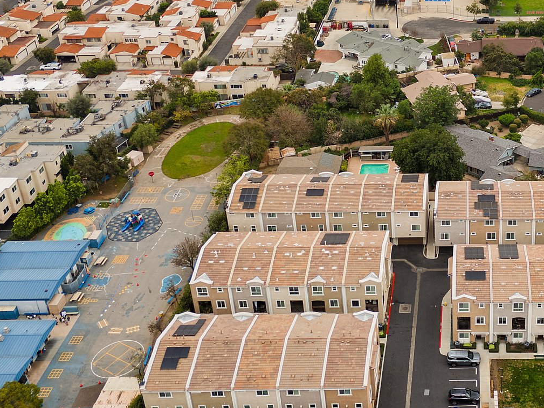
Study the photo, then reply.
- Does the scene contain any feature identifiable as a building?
Yes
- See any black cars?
Yes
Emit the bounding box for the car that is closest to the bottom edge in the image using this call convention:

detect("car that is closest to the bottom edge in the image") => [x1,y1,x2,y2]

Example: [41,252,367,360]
[447,386,481,404]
